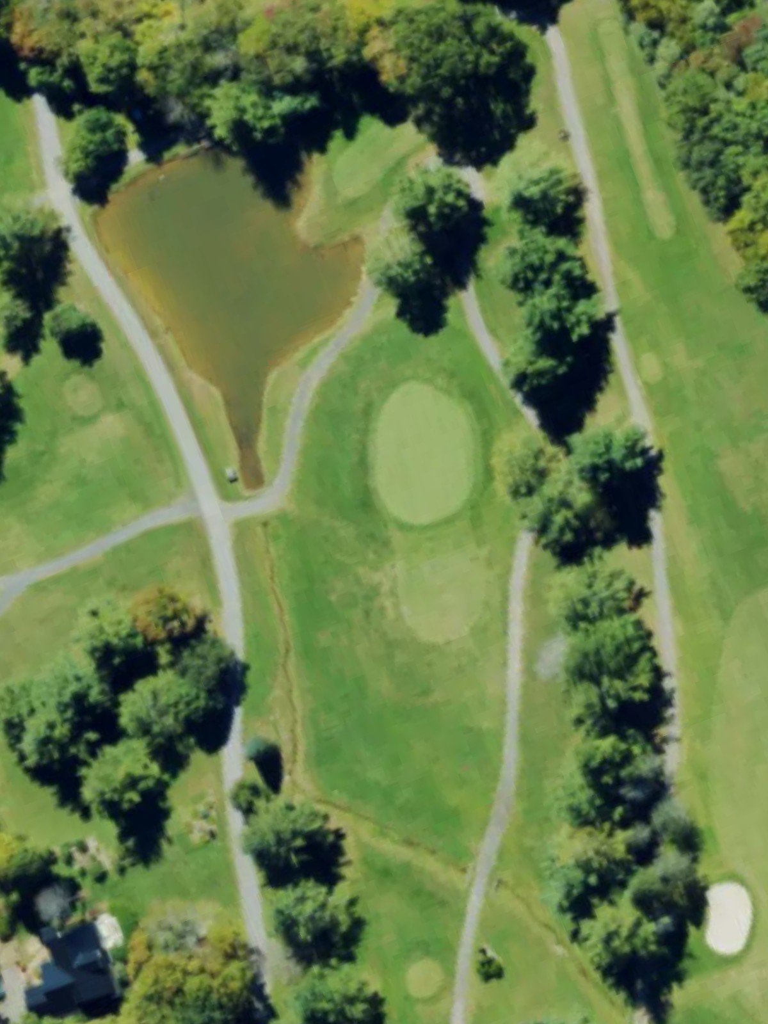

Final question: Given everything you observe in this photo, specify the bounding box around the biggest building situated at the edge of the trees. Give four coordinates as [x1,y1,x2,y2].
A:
[21,913,123,1017]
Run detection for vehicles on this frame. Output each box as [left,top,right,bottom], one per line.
[226,468,237,481]
[0,977,5,997]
